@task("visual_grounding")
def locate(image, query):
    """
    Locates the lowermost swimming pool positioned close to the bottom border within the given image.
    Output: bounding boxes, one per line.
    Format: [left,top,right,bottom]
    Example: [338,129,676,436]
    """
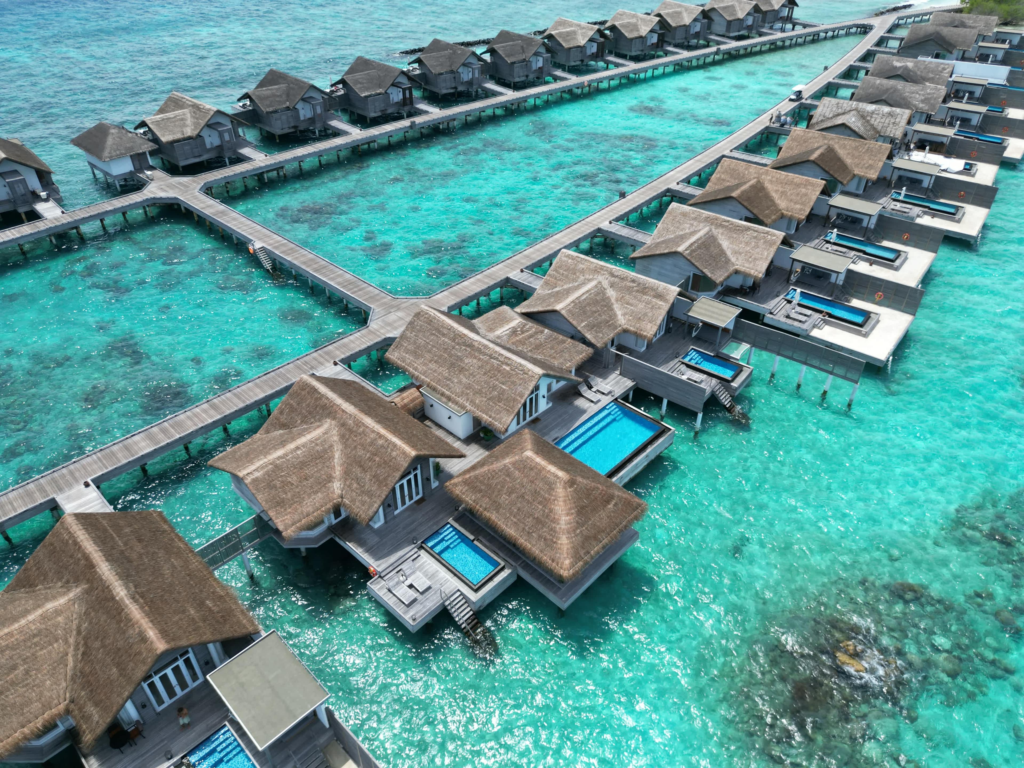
[174,721,265,768]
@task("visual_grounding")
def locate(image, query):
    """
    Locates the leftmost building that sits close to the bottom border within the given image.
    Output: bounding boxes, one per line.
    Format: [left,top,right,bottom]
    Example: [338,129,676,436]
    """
[0,507,260,758]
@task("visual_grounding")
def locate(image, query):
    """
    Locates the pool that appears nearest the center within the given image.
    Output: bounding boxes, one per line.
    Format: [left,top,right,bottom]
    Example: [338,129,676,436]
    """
[551,398,675,488]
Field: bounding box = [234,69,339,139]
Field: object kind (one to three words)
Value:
house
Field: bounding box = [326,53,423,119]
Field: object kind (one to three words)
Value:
house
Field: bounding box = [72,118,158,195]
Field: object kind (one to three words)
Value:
shed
